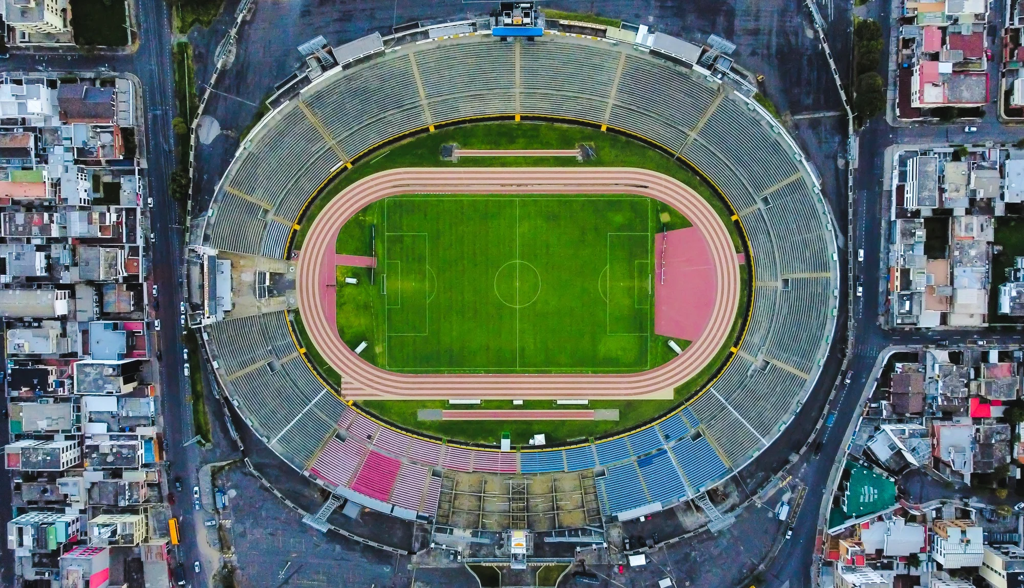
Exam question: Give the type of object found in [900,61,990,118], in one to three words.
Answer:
building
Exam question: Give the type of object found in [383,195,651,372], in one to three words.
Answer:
sports field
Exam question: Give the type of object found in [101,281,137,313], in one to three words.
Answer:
house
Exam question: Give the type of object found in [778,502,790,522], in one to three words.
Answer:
vehicle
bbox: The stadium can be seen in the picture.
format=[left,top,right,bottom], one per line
[199,31,839,547]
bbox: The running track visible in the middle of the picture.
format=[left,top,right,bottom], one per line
[299,168,739,399]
